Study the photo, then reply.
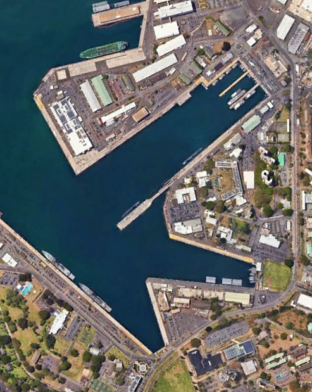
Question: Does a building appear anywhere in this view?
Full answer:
Yes, a building appears in the view.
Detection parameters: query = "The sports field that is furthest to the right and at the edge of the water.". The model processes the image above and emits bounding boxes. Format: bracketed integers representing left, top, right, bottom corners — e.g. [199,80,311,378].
[262,262,292,292]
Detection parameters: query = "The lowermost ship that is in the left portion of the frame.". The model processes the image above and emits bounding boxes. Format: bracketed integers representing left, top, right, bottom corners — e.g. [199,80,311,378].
[78,282,111,311]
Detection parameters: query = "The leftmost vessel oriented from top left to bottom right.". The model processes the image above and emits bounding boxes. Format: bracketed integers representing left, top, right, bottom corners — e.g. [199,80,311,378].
[43,251,74,280]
